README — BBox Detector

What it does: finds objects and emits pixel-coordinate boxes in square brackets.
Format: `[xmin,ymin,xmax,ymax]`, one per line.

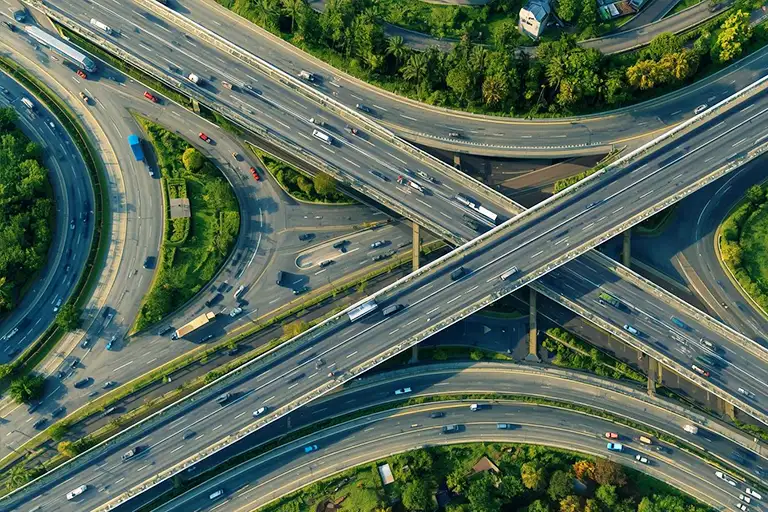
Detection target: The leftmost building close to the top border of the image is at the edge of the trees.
[518,0,557,40]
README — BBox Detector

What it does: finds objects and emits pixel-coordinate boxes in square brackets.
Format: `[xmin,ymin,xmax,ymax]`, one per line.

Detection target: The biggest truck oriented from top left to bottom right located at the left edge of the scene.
[27,24,94,73]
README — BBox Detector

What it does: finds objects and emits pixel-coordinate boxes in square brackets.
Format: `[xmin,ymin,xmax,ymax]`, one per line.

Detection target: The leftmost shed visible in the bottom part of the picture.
[379,463,398,489]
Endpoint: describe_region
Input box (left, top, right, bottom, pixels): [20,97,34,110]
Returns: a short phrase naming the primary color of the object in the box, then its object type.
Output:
white vehicle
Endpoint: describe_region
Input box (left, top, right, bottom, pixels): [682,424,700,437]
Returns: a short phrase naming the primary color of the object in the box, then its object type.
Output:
white vehicle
